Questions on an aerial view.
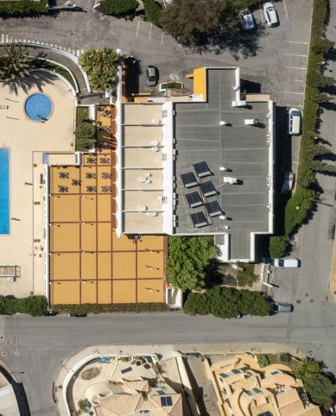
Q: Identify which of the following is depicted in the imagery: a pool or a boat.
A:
pool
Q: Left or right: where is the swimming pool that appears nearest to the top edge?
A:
left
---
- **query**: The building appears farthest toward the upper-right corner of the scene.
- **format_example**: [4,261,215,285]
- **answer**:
[110,67,274,261]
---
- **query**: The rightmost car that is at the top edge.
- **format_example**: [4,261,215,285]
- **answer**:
[261,2,278,27]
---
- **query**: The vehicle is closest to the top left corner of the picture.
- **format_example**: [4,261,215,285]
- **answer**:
[145,64,157,88]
